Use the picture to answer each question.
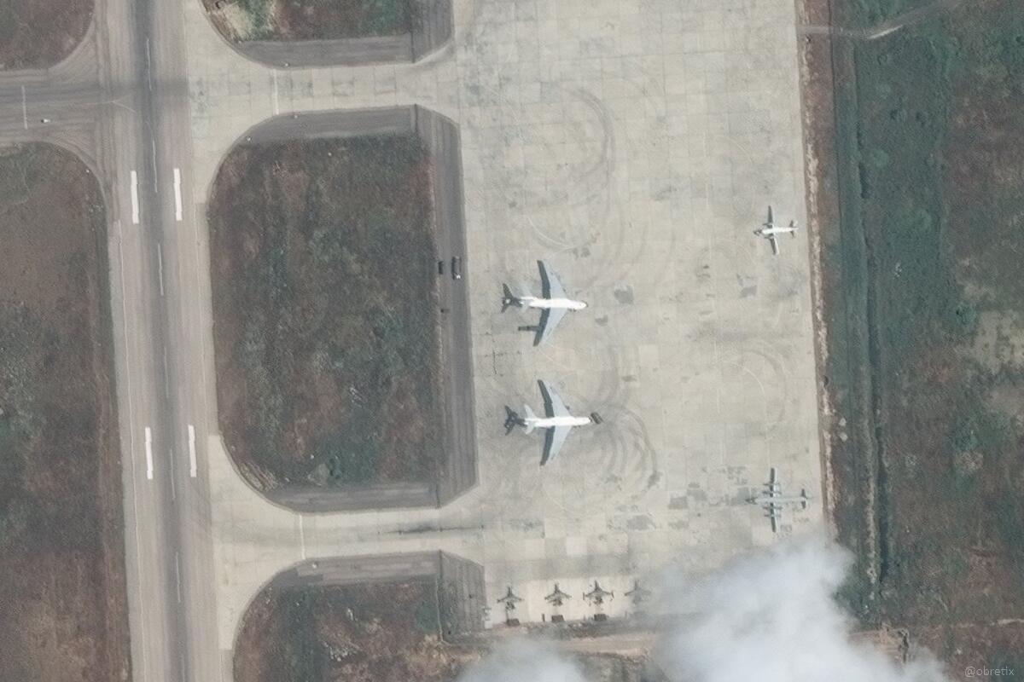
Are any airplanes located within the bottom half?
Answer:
Yes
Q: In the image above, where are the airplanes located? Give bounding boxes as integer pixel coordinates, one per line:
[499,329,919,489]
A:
[545,585,570,607]
[751,467,816,532]
[498,587,523,610]
[624,581,650,604]
[758,206,803,255]
[584,581,609,604]
[512,260,587,345]
[515,378,590,464]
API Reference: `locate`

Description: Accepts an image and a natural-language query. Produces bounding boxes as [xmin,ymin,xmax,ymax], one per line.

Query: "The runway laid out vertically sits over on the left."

[97,0,233,682]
